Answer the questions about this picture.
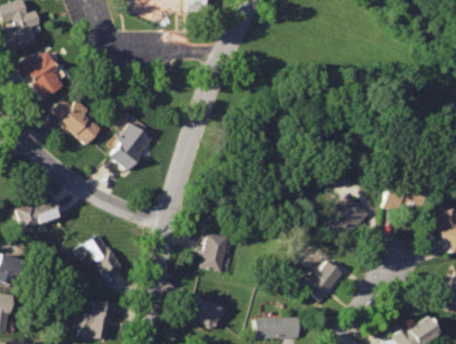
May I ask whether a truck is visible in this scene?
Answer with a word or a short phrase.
No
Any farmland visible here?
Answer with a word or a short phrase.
No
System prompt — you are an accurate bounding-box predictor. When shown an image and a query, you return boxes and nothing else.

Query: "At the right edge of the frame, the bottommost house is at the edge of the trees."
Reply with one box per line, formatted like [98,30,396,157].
[390,315,444,344]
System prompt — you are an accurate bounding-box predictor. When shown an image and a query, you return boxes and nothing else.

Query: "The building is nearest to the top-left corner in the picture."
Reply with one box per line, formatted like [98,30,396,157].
[0,0,41,49]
